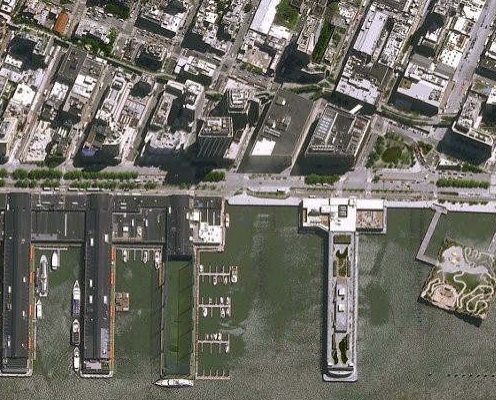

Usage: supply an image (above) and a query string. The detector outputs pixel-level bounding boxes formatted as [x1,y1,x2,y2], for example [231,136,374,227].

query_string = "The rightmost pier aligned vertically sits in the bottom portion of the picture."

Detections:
[298,199,387,383]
